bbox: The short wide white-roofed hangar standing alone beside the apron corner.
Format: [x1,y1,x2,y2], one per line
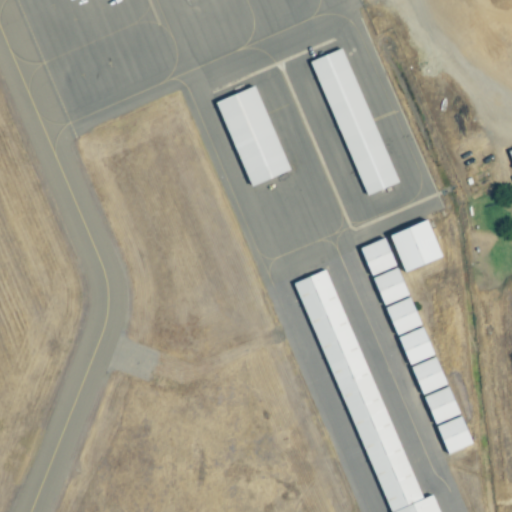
[217,86,292,186]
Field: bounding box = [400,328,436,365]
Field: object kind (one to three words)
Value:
hangar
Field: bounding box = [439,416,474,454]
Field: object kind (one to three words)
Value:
hangar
